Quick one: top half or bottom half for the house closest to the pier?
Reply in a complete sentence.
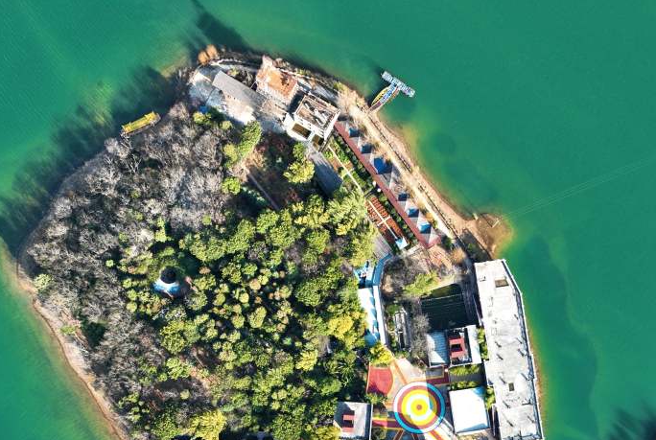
The house closest to the pier is in the top half of the image.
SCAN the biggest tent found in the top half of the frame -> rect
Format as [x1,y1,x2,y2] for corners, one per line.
[374,160,399,186]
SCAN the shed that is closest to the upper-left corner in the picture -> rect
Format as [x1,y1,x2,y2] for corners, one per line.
[213,71,267,112]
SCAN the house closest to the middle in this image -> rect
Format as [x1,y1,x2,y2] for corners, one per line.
[285,93,340,154]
